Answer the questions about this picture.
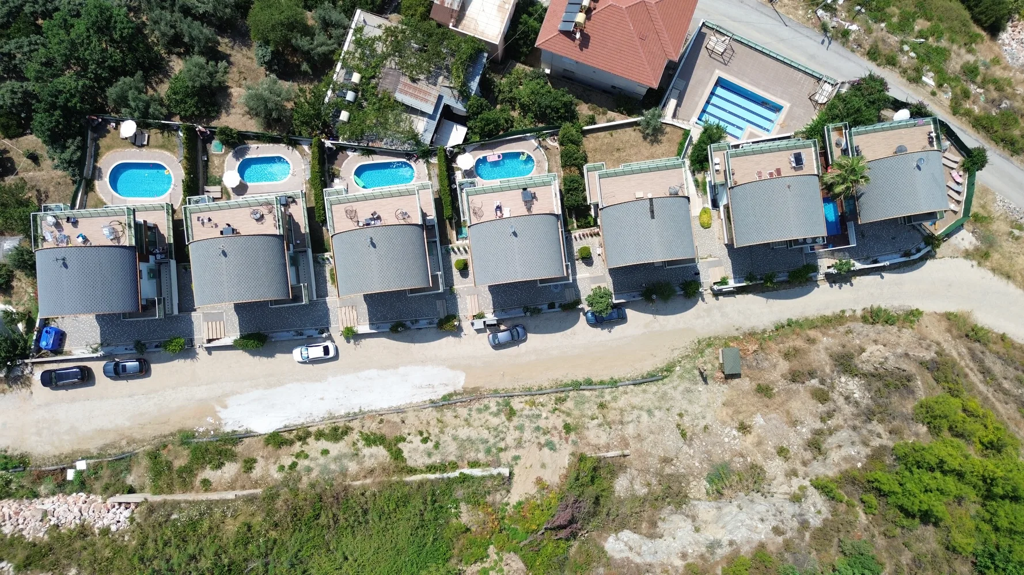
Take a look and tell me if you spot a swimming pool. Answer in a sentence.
Yes, I can see a swimming pool in this picture.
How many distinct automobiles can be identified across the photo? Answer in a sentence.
The count of automobiles comes to 5.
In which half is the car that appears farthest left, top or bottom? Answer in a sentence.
The car that appears farthest left sits in the bottom half of the picture.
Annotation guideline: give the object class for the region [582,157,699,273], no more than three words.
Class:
house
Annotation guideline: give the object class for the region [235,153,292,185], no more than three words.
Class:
swimming pool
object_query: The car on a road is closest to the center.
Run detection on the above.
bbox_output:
[487,324,528,349]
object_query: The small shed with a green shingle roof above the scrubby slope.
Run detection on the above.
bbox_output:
[716,347,742,376]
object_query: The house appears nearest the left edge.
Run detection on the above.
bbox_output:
[31,202,189,323]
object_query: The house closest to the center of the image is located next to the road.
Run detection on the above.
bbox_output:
[456,172,573,290]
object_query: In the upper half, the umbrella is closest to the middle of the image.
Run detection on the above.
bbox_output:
[454,151,478,174]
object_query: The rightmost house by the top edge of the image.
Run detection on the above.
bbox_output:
[534,0,697,106]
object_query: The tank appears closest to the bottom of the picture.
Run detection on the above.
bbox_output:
[37,326,70,351]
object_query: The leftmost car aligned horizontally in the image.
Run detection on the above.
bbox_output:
[41,365,90,389]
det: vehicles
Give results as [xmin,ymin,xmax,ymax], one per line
[104,358,151,379]
[487,324,528,349]
[293,341,338,364]
[41,365,90,389]
[584,304,628,327]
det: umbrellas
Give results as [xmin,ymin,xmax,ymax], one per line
[222,169,245,190]
[454,151,478,174]
[118,120,141,140]
[888,108,910,124]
